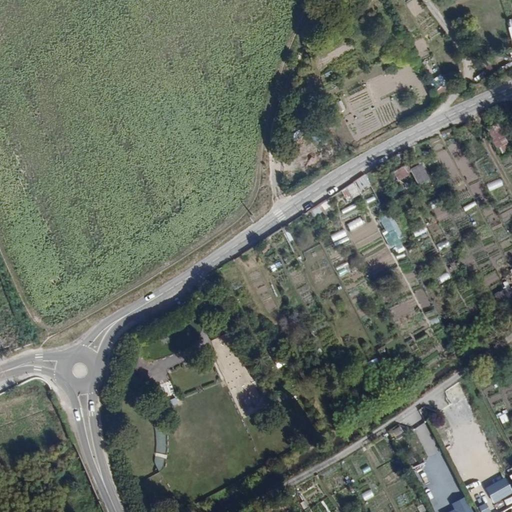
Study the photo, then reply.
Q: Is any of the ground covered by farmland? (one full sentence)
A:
Yes, there's farmland in this view.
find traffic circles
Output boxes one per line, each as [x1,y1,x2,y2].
[58,348,102,391]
